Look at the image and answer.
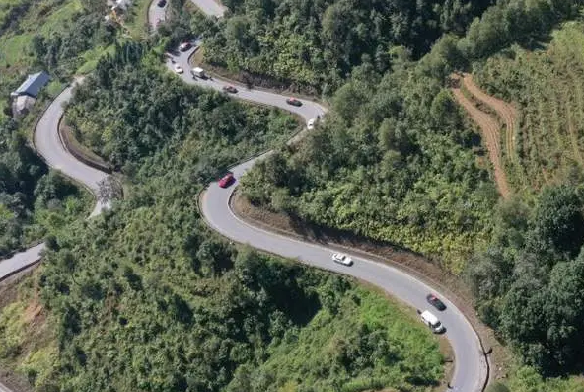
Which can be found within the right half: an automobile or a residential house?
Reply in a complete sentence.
Visible within the right half is an automobile.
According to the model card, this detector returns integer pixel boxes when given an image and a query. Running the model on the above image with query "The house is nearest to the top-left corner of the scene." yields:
[17,75,52,106]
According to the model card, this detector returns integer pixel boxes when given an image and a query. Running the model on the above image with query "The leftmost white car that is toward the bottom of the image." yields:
[328,252,352,265]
